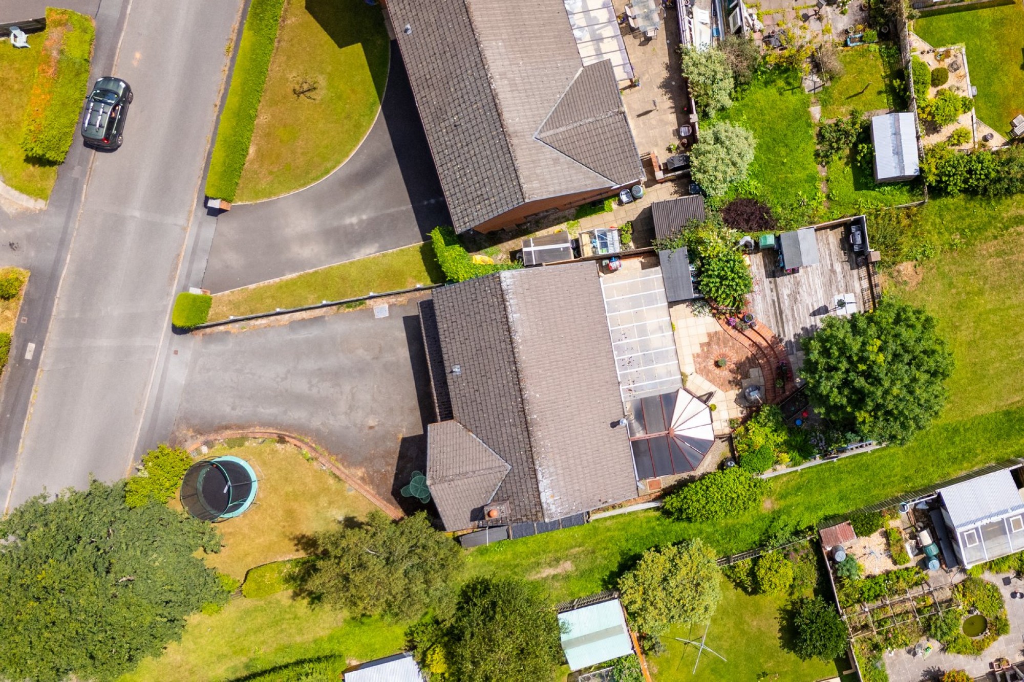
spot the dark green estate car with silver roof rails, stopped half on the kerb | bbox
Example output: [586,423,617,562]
[83,78,134,153]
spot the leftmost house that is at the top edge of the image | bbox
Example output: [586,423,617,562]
[356,0,650,239]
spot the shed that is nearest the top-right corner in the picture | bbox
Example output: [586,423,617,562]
[866,112,919,187]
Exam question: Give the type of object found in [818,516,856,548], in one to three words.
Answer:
shed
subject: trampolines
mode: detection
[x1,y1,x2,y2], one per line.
[178,449,266,531]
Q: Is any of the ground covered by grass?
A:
Yes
